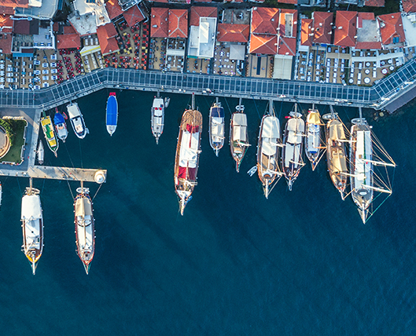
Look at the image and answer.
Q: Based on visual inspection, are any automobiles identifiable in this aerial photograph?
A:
No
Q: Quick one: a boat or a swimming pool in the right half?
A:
boat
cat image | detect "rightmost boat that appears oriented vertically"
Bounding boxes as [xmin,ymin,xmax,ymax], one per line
[343,108,393,223]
